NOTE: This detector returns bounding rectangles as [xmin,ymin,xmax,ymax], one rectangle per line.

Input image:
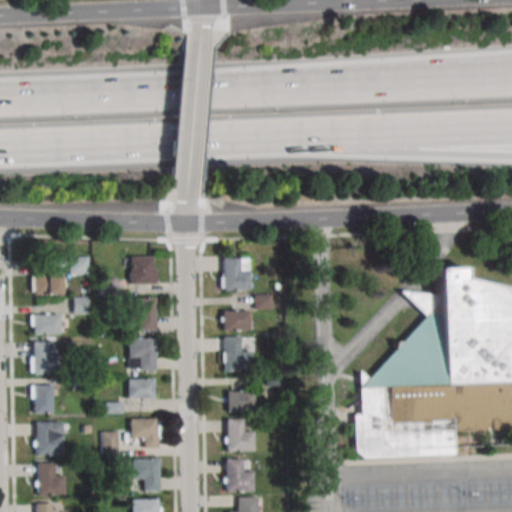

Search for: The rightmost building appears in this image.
[355,266,512,459]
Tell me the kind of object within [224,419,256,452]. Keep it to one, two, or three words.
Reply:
house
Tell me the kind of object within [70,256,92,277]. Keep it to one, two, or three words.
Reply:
building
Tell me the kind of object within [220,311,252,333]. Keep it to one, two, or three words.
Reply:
house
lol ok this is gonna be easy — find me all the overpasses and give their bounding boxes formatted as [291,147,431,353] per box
[174,33,230,203]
